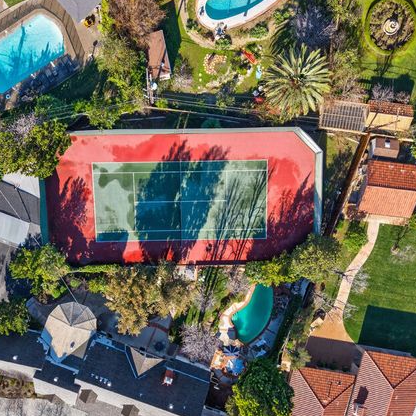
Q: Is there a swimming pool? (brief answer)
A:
Yes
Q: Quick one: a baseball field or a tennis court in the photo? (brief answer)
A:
tennis court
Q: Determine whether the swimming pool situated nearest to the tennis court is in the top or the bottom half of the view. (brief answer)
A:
bottom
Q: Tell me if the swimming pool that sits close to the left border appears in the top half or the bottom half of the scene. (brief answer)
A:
top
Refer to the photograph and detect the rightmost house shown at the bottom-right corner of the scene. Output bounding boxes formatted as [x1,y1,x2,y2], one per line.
[347,345,416,416]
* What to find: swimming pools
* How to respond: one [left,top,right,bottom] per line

[200,0,276,24]
[226,275,279,349]
[0,6,73,102]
